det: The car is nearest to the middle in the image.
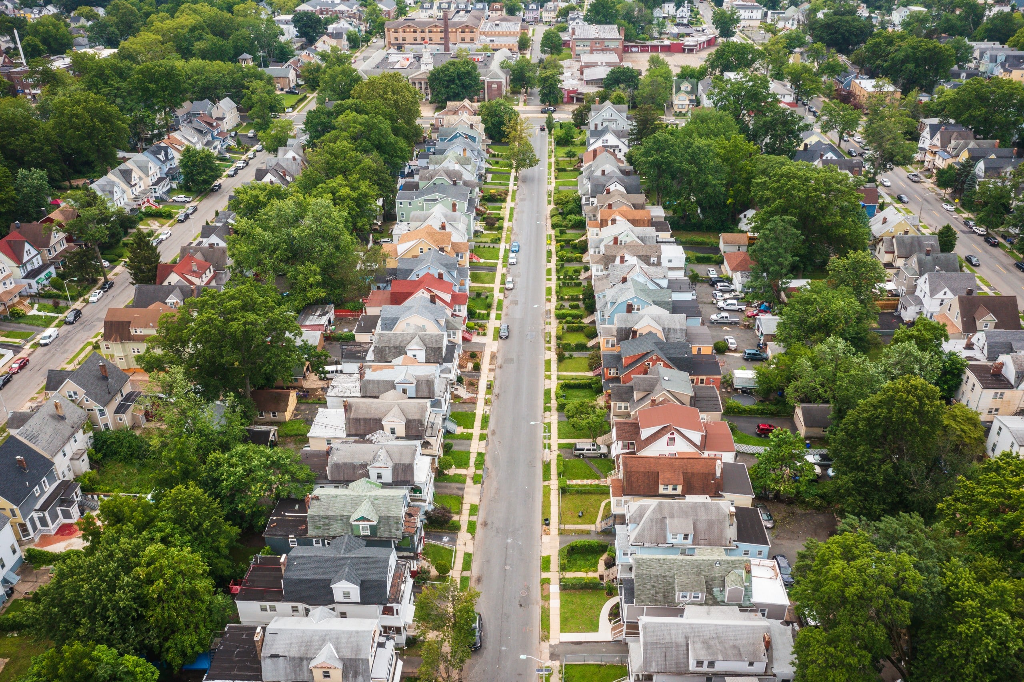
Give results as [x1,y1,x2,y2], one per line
[498,324,510,339]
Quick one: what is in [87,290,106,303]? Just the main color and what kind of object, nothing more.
white vehicle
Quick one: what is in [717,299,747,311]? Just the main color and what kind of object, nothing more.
white vehicle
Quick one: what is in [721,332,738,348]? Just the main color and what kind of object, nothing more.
white car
